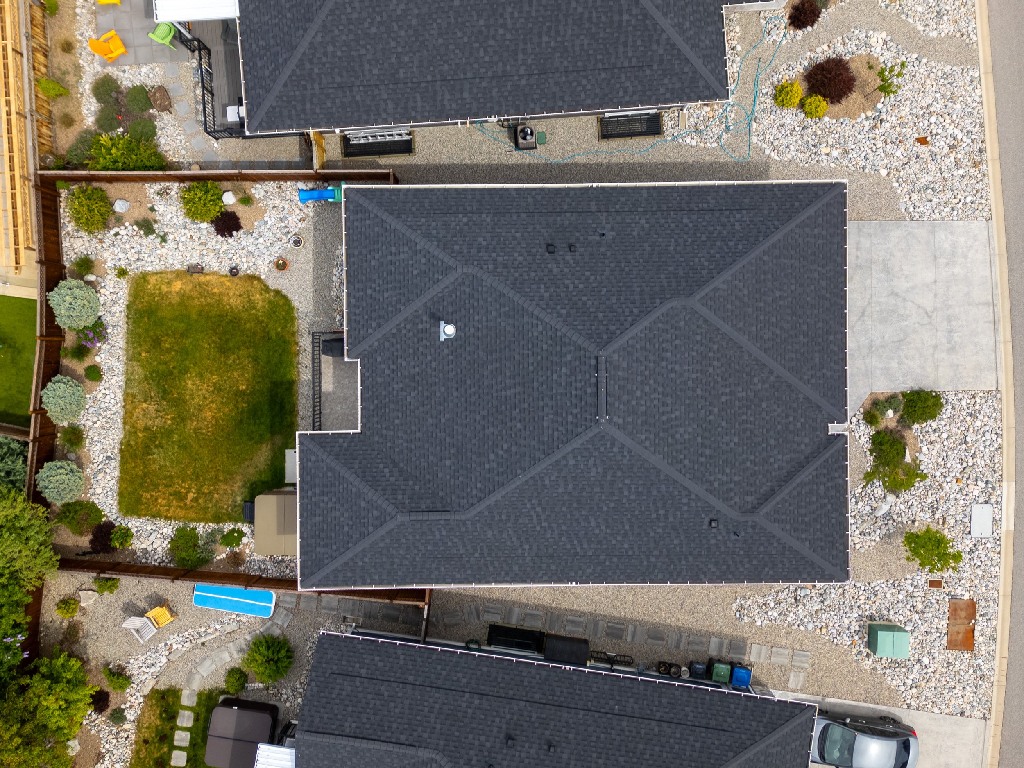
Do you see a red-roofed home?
No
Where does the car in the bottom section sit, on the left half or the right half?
right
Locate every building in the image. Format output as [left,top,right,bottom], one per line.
[296,179,851,592]
[293,618,822,768]
[235,0,777,145]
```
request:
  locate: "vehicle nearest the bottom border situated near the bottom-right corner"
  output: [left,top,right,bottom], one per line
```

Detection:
[814,707,922,768]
